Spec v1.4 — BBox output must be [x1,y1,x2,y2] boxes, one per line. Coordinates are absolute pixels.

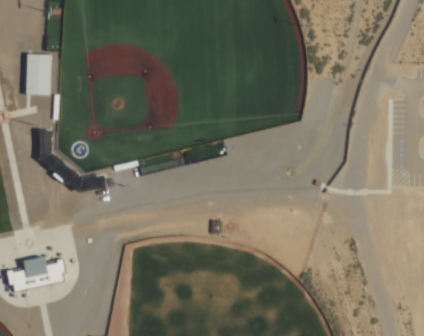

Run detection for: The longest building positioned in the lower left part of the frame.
[7,256,66,291]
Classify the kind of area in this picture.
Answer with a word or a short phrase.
sports ground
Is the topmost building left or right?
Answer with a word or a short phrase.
left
